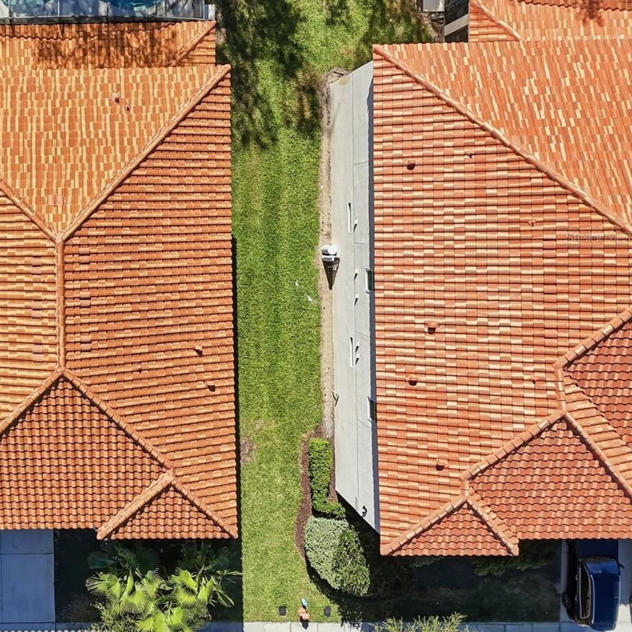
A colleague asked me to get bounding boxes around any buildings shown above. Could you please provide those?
[329,0,632,559]
[0,17,243,546]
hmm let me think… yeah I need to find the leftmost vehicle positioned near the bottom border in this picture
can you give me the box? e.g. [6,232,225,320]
[564,540,629,631]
